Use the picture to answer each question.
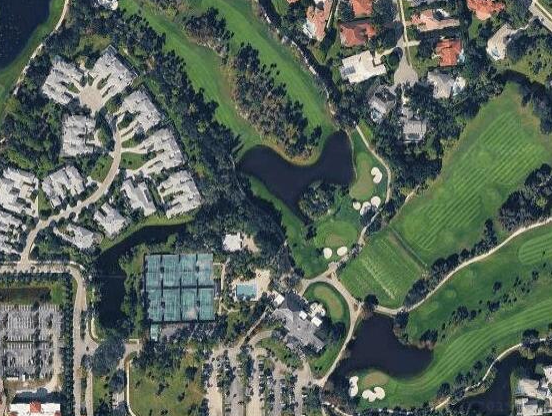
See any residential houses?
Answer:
Yes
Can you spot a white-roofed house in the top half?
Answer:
Yes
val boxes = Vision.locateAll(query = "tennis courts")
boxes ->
[196,253,215,287]
[199,288,217,321]
[182,288,199,321]
[161,253,180,287]
[180,253,197,287]
[144,253,162,287]
[147,288,165,321]
[164,288,183,321]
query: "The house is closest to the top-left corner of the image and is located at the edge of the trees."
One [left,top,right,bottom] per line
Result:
[37,57,87,104]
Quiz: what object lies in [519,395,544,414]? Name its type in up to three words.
house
